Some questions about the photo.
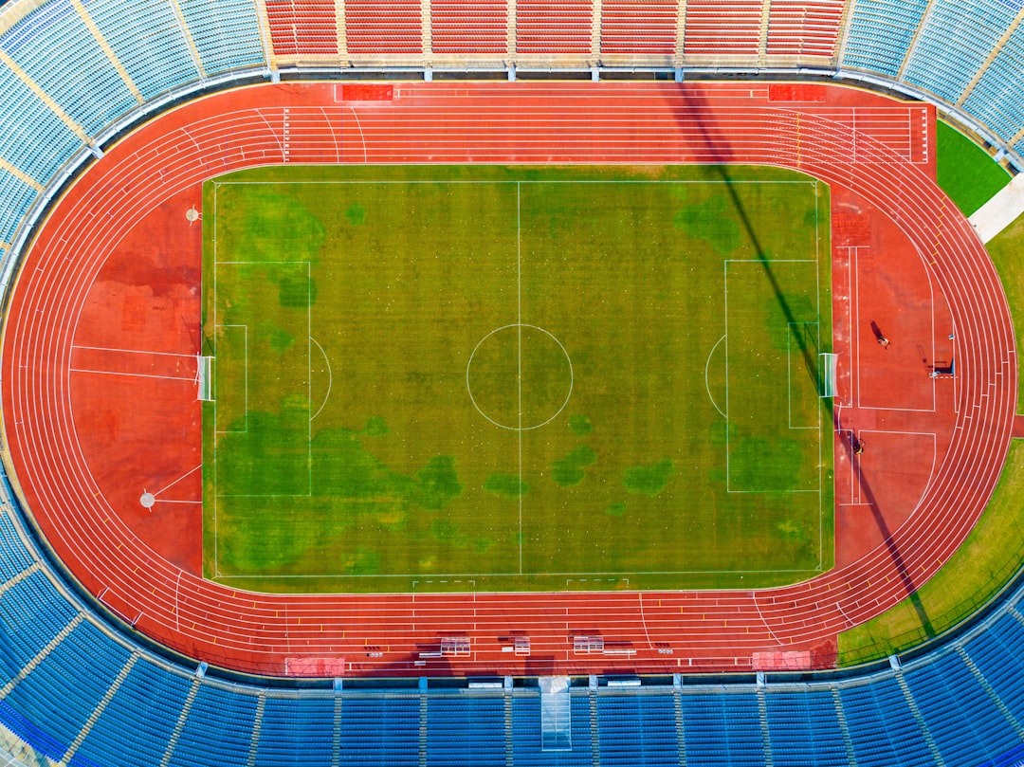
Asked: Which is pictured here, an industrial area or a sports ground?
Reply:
sports ground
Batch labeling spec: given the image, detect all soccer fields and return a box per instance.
[202,165,835,593]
